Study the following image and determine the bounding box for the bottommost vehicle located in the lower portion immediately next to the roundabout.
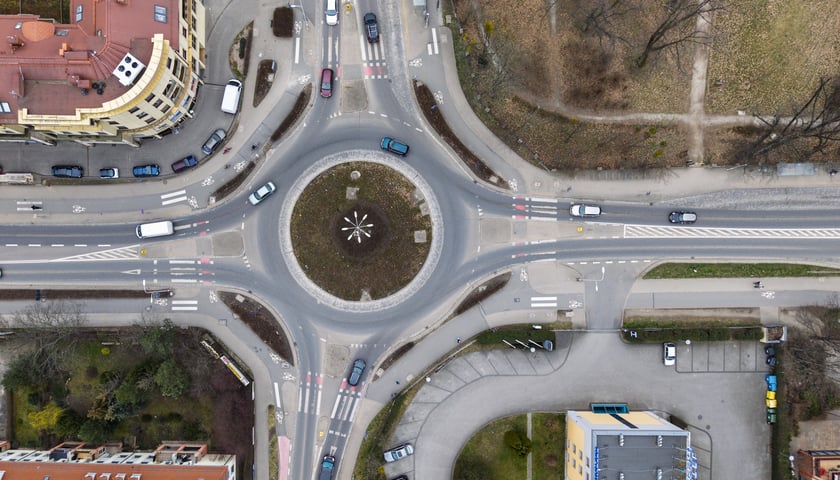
[346,356,367,388]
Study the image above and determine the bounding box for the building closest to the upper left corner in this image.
[0,0,213,155]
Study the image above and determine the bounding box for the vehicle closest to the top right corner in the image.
[669,208,700,223]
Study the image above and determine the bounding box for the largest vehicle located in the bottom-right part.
[664,343,680,368]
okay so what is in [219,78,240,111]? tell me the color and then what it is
white vehicle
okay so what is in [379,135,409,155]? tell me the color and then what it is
blue car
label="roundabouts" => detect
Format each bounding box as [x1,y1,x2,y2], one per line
[244,116,479,350]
